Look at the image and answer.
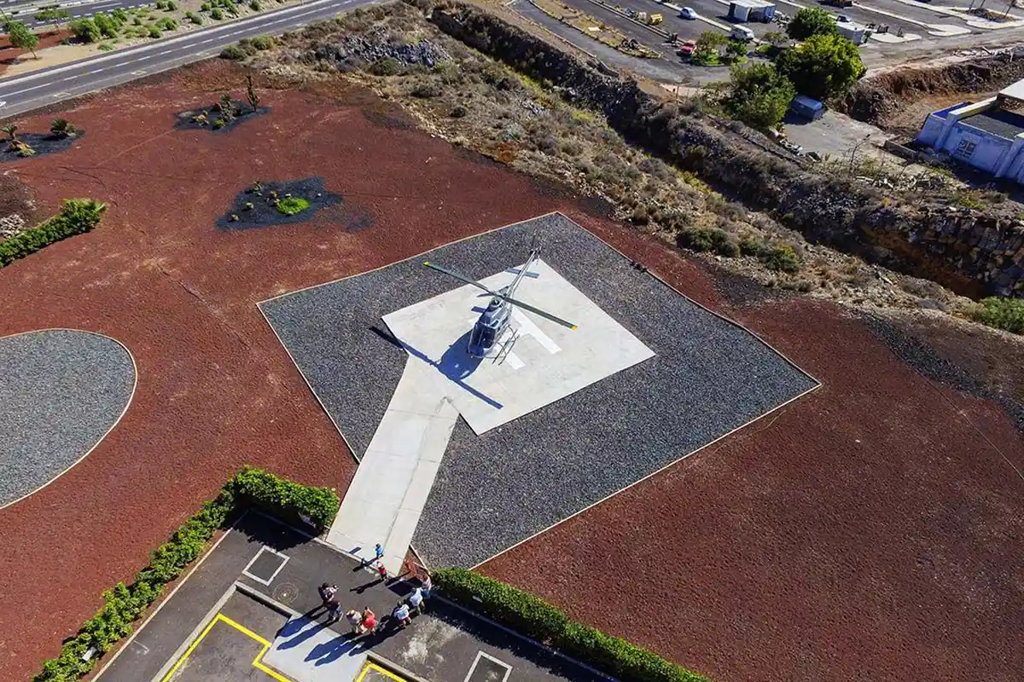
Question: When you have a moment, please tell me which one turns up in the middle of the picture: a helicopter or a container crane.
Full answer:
The one visible in the middle of the picture is a helicopter.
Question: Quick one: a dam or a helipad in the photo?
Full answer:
The image shows a helipad.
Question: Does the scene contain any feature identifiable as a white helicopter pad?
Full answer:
Yes, I can see a white helicopter pad in this picture.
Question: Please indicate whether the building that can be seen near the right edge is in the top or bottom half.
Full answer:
It is in the top half that the building that can be seen near the right edge appears.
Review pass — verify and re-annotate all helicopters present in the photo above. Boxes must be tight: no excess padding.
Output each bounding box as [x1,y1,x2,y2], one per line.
[423,235,575,365]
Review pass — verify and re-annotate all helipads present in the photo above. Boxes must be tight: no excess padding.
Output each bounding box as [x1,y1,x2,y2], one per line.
[381,259,656,437]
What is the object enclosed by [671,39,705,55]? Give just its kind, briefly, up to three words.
car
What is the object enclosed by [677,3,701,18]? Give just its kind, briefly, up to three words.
car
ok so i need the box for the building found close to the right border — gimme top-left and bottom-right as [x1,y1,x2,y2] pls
[918,95,1024,187]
